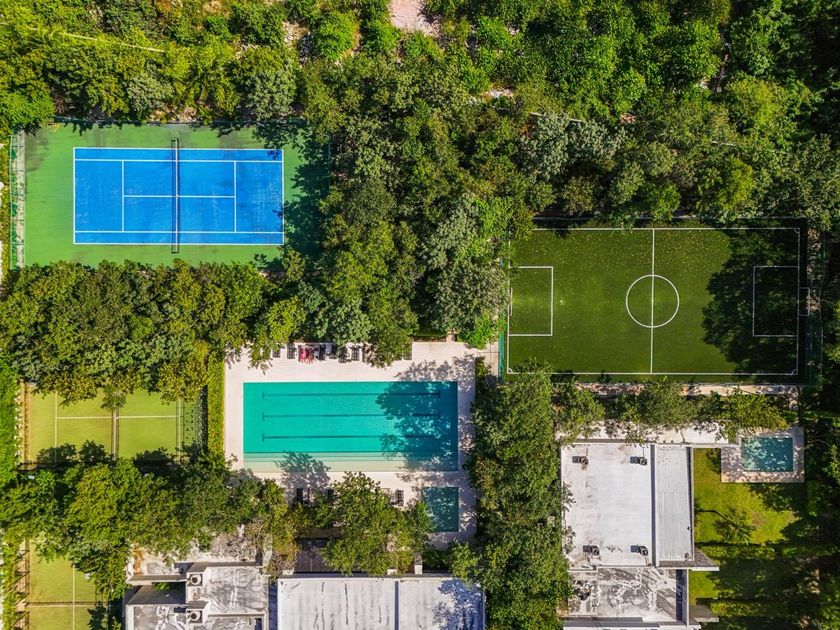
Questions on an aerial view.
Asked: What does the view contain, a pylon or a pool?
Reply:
pool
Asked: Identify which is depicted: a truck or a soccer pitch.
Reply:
soccer pitch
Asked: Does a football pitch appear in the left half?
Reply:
No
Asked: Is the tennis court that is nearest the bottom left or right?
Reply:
left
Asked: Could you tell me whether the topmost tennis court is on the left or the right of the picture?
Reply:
left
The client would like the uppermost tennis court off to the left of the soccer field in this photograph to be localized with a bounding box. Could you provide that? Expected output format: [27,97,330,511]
[25,121,329,271]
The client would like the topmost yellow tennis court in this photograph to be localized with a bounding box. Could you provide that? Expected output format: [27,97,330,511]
[27,372,198,474]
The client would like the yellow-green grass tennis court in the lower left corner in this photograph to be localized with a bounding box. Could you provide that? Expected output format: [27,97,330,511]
[27,530,105,630]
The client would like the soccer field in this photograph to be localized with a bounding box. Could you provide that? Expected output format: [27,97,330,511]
[503,222,807,381]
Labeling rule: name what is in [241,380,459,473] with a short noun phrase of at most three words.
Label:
swimming pool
